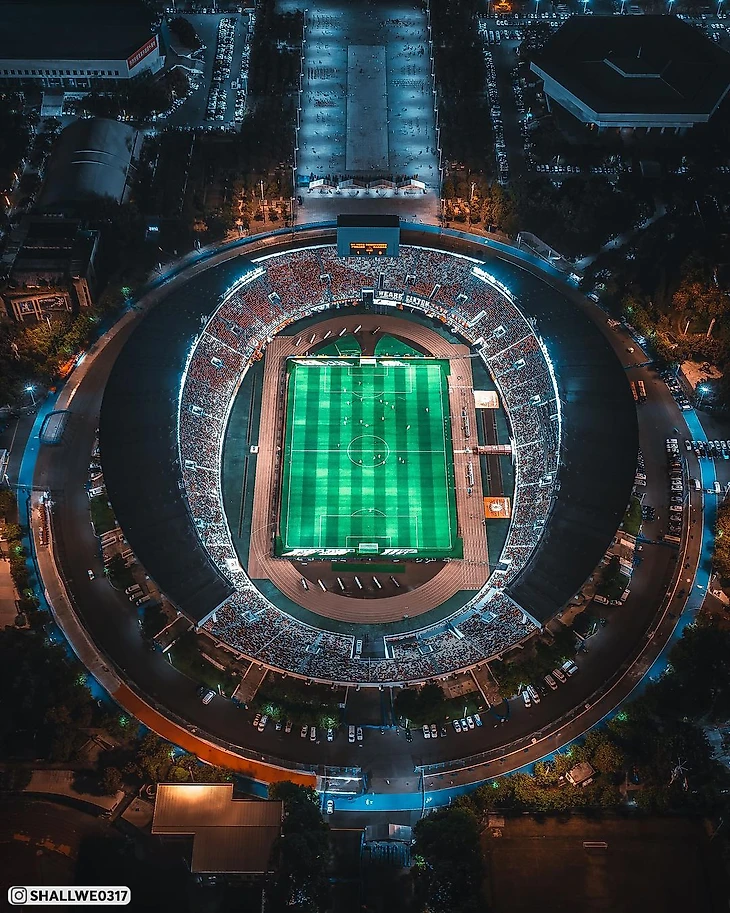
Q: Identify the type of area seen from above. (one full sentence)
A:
This looks like a sports ground.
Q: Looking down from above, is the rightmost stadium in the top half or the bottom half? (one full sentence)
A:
The top half of the photo is where the rightmost stadium is.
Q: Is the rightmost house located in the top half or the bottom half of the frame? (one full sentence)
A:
The rightmost house sits in the bottom half of the picture.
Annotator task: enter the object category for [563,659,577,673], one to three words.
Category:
vehicle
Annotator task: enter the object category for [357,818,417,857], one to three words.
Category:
building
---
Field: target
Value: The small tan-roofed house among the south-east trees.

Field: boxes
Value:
[565,761,595,794]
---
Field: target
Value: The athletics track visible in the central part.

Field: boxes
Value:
[230,313,513,624]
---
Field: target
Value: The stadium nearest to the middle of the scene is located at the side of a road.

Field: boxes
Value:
[91,241,647,698]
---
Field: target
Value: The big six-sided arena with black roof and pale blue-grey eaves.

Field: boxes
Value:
[529,15,730,141]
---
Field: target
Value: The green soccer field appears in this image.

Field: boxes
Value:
[280,358,472,559]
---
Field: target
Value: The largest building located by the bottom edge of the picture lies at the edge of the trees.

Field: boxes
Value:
[150,781,283,881]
